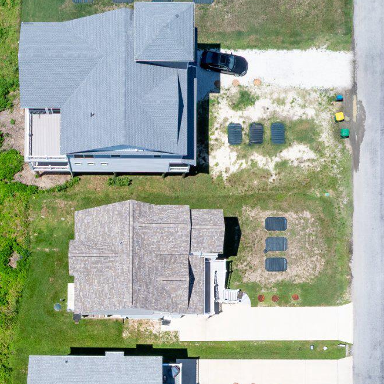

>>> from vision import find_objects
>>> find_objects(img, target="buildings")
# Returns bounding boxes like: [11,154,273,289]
[19,2,197,181]
[68,200,241,320]
[27,352,181,384]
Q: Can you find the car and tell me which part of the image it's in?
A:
top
